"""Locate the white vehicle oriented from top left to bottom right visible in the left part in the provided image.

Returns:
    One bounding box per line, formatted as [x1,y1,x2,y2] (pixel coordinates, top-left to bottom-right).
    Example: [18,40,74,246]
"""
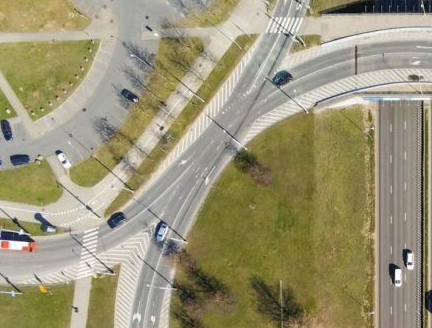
[56,152,72,169]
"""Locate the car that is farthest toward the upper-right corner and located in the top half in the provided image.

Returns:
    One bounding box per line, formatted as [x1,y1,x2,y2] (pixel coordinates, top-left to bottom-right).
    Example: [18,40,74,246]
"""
[273,71,292,86]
